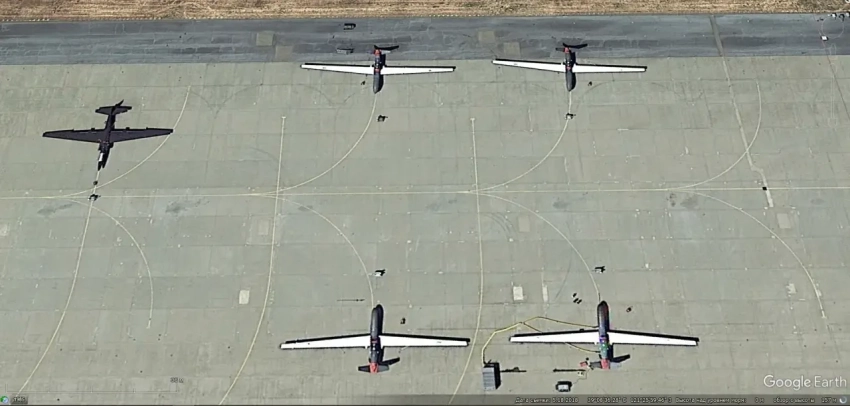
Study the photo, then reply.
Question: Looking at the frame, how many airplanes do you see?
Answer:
five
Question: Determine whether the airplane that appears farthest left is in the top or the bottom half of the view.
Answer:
top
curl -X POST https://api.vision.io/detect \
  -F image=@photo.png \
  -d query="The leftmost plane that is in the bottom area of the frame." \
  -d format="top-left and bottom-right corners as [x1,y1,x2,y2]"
[281,308,471,374]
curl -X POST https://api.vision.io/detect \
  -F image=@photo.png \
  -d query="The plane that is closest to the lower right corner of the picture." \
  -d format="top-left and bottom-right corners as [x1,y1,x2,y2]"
[510,304,700,370]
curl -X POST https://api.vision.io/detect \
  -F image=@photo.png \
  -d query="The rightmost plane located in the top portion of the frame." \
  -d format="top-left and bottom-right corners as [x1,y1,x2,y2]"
[492,43,647,92]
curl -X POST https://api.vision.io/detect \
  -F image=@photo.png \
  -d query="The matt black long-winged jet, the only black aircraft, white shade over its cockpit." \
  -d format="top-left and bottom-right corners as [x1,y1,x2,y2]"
[44,98,172,174]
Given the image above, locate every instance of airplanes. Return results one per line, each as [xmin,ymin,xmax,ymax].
[44,98,172,174]
[510,304,700,370]
[492,43,647,92]
[300,46,456,95]
[281,308,471,374]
